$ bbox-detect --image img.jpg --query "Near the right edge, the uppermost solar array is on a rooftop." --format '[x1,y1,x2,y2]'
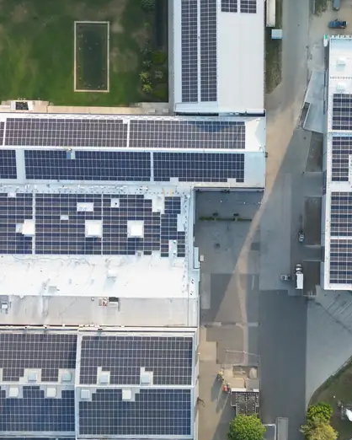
[333,94,352,130]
